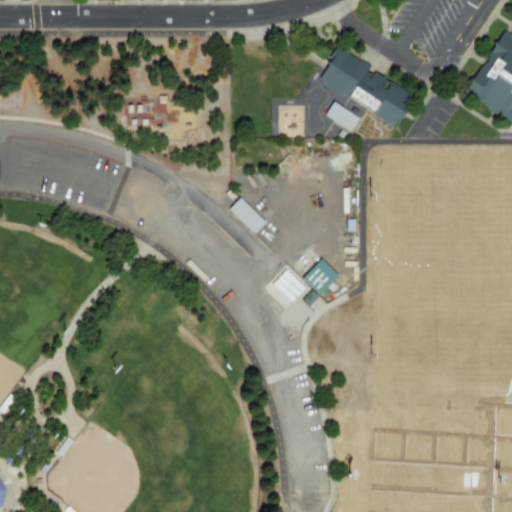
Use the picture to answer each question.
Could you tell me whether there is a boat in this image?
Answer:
No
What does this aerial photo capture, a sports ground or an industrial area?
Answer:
sports ground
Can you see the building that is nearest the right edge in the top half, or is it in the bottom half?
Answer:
top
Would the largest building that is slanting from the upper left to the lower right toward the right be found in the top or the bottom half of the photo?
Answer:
top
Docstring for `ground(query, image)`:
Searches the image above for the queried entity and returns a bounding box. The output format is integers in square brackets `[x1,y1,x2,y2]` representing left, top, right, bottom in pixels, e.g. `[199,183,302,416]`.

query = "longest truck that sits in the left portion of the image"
[188,260,214,284]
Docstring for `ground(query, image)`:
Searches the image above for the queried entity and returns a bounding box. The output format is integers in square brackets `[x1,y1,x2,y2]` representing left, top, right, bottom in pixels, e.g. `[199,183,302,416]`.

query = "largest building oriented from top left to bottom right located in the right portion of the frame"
[322,48,411,128]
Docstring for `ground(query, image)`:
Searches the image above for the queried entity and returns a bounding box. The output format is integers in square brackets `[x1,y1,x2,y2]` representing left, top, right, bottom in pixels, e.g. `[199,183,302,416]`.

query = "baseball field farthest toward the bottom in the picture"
[48,422,138,512]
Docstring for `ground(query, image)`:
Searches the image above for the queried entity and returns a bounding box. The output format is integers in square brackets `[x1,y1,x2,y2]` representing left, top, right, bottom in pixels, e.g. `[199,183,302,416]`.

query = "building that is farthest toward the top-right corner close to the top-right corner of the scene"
[470,31,512,121]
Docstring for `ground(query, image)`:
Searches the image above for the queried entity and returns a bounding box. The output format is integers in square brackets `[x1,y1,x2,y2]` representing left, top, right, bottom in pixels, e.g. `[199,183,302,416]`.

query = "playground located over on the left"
[124,96,200,137]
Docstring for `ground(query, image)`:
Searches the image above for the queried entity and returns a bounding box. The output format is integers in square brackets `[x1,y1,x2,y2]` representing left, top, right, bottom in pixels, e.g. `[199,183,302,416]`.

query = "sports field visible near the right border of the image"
[308,142,512,512]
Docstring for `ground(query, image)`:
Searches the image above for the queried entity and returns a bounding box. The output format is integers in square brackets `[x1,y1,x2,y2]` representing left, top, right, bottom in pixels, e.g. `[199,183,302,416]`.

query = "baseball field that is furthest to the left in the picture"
[0,352,25,408]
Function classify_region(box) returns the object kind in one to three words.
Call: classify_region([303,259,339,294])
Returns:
building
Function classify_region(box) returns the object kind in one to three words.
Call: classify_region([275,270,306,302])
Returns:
building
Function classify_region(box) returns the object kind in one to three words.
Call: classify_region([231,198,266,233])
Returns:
shed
